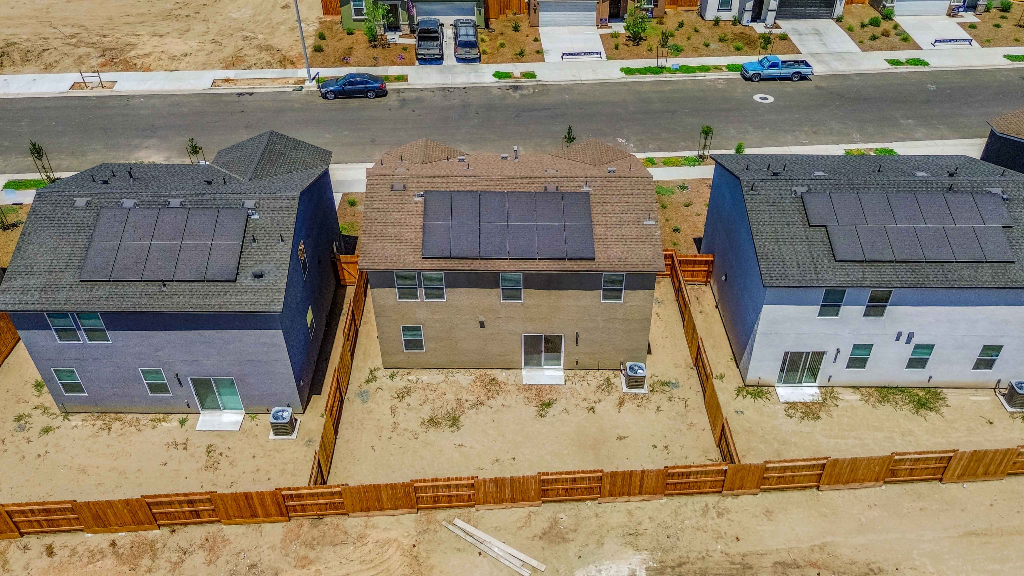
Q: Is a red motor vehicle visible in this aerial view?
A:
No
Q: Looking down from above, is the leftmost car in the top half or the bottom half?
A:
top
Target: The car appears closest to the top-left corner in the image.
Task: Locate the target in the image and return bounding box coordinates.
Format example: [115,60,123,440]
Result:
[315,70,390,98]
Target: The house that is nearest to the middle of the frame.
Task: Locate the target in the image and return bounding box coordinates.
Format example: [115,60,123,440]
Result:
[360,137,668,369]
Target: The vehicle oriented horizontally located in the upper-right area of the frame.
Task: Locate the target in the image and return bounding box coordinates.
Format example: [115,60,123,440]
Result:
[735,51,815,80]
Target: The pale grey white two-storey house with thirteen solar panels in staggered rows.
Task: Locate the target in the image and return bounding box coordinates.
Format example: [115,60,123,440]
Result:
[700,156,1024,386]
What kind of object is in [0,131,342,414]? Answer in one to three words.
house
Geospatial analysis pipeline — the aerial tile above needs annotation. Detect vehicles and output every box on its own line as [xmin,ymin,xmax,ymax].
[454,19,484,55]
[315,70,390,98]
[735,51,815,80]
[416,18,449,58]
